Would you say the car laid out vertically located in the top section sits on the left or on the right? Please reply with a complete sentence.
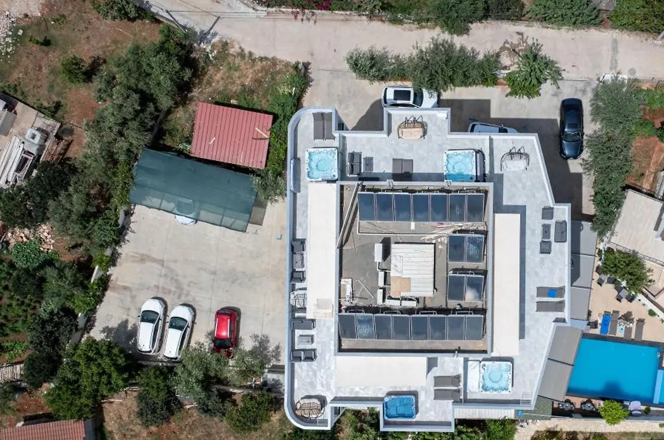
It is on the right.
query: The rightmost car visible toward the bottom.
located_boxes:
[211,307,239,357]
